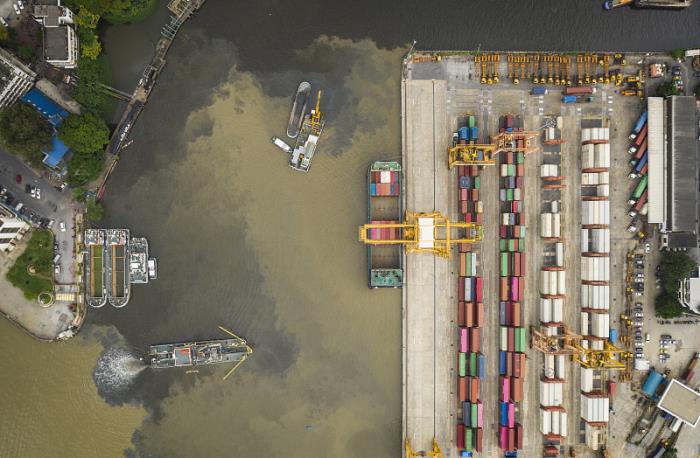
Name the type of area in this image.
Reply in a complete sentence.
What you see here is a port.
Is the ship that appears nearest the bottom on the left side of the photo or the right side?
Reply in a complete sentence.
It is on the left.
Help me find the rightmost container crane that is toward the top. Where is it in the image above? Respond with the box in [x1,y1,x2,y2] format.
[491,131,539,160]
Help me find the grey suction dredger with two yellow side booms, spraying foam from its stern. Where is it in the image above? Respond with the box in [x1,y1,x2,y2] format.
[145,327,254,383]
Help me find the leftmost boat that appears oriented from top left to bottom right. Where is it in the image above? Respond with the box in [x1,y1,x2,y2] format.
[273,137,291,153]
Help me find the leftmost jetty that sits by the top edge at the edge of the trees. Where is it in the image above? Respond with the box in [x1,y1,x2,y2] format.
[103,0,204,157]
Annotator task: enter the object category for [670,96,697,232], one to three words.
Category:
building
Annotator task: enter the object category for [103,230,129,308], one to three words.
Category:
ship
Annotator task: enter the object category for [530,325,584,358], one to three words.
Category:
container crane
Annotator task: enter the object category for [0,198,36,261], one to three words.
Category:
building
